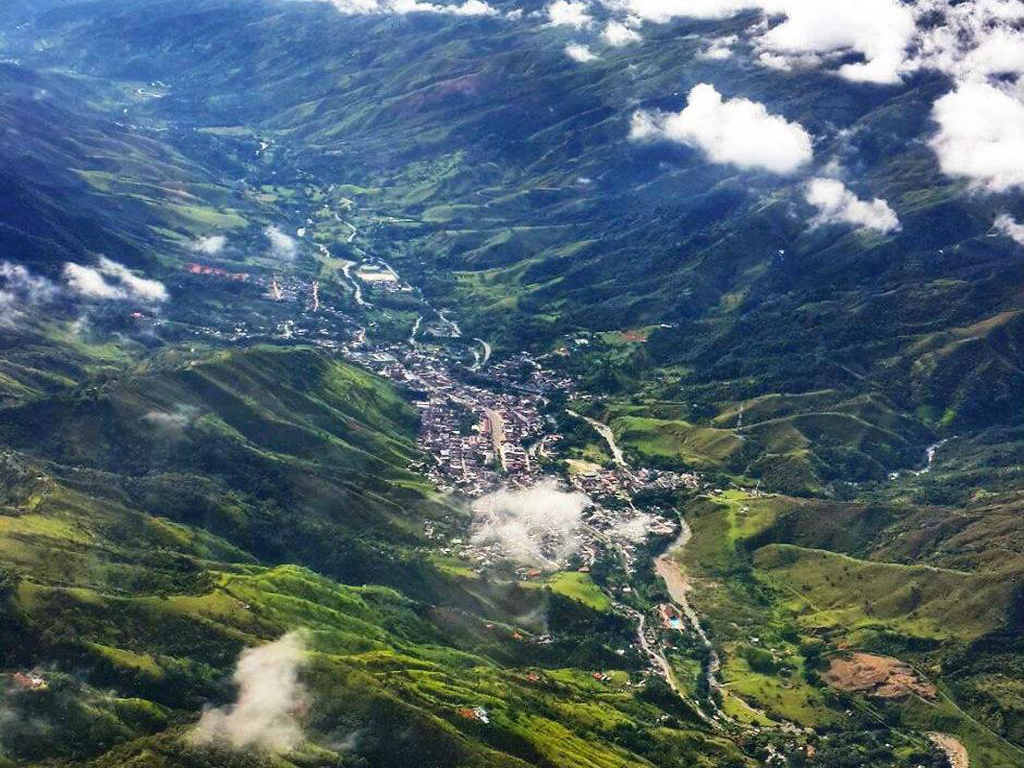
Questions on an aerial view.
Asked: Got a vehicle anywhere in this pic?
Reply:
No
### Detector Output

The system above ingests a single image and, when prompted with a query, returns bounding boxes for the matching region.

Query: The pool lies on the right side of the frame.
[664,618,686,630]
